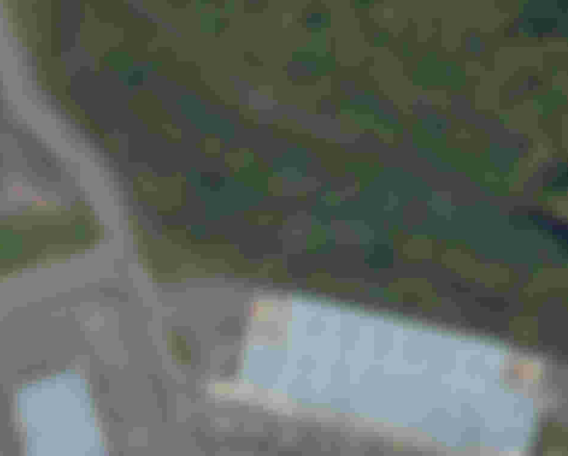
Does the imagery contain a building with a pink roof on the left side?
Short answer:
No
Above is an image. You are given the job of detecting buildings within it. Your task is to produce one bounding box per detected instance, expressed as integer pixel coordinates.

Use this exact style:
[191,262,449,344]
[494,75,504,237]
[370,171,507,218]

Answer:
[237,293,545,456]
[16,370,106,456]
